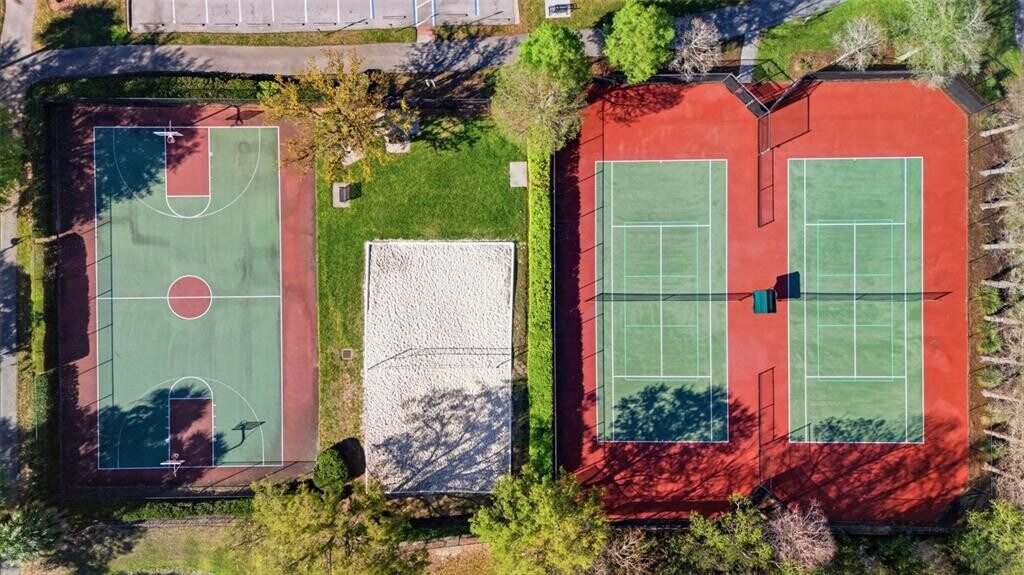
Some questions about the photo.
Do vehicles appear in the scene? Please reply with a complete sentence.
No, there isn't any vehicle down there.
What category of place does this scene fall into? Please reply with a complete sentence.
What you see here is a sports ground.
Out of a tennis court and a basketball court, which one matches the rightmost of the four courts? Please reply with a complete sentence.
I'd say the rightmost of the four courts is a tennis court.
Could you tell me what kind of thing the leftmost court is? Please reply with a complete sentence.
It looks like the leftmost court is a basketball court.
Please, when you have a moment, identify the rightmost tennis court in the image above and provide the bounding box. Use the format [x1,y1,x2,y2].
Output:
[758,80,970,523]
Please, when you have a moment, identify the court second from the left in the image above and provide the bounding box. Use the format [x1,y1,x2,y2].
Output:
[364,240,516,495]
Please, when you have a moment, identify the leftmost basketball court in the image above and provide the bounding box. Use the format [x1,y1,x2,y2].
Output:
[59,105,319,488]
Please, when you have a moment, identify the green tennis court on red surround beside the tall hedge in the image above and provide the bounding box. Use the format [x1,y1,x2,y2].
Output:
[555,82,761,523]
